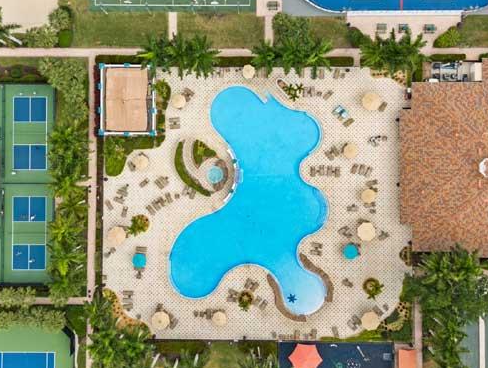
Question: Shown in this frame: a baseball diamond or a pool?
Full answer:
The one in the frame is a pool.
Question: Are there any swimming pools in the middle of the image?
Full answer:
Yes, a swimming pool is visible in the middle of the image.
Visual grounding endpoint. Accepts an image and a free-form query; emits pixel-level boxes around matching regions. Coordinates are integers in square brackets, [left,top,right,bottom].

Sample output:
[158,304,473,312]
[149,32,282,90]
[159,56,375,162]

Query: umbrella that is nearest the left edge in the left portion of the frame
[106,227,125,245]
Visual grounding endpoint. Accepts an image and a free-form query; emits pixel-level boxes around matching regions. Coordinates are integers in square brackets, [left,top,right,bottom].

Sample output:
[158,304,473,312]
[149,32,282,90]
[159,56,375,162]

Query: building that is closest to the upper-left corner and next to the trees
[97,63,156,136]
